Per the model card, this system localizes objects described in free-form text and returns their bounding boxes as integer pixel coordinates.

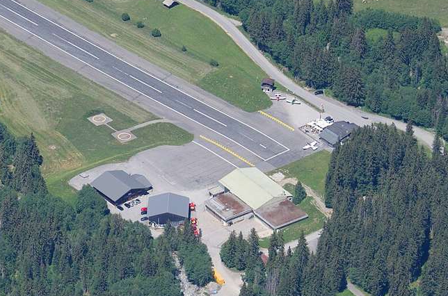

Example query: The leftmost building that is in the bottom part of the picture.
[94,170,142,209]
